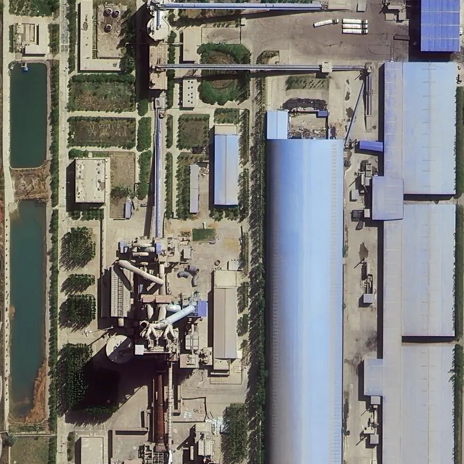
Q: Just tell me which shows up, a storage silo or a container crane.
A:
storage silo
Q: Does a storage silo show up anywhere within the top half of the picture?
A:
Yes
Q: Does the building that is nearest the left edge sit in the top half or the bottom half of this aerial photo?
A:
top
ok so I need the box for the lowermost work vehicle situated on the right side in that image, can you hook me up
[364,405,378,438]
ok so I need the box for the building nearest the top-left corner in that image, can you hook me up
[14,23,45,53]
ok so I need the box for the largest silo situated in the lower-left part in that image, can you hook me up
[105,335,134,363]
